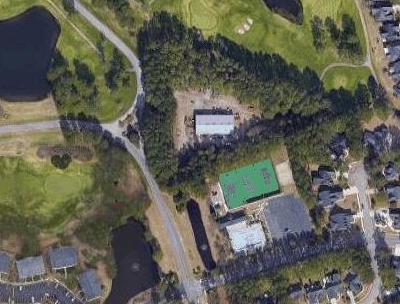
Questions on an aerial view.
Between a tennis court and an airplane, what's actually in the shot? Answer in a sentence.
It is a tennis court that can be seen here.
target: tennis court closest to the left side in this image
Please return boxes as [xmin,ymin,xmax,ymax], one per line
[220,170,247,208]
